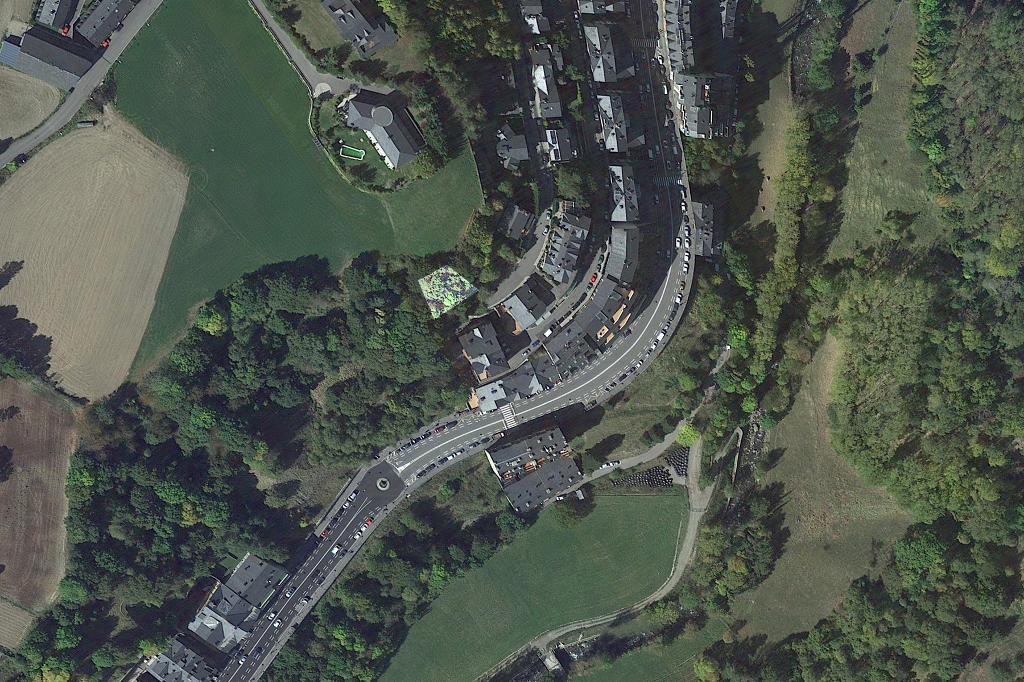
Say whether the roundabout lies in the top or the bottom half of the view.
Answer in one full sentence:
Seen from above, the roundabout lies in the bottom half of the view.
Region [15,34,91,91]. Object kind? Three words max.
barn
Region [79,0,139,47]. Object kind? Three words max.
house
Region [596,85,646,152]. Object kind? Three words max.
building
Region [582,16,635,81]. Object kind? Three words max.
building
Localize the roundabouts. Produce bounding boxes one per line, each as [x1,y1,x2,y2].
[354,461,406,509]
